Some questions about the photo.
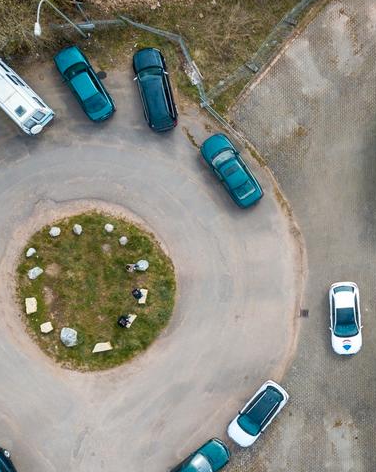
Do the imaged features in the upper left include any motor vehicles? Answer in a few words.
Yes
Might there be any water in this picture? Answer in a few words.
No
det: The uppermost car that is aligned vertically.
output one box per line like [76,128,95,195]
[132,49,179,132]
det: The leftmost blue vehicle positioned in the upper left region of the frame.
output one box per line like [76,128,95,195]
[58,49,116,121]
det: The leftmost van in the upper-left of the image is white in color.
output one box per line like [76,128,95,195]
[0,60,56,137]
